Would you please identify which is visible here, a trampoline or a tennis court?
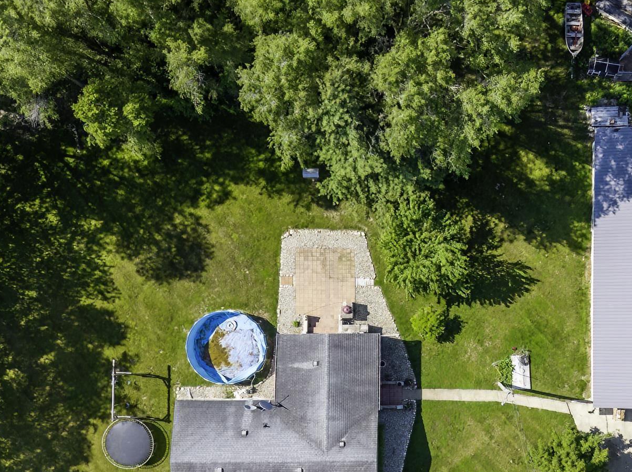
trampoline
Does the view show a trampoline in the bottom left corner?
Yes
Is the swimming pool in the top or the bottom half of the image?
bottom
